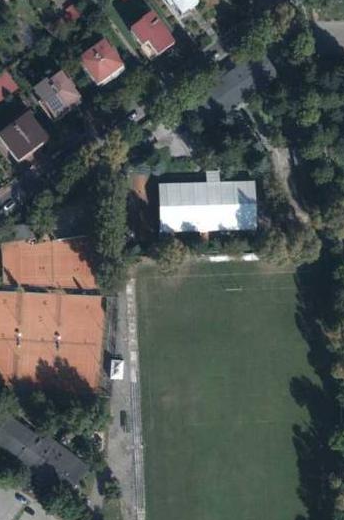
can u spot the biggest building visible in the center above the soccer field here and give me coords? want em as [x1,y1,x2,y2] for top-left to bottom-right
[158,180,258,234]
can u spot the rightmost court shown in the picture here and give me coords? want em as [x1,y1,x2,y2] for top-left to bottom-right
[59,292,105,388]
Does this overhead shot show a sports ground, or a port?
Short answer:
sports ground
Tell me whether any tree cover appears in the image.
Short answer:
Yes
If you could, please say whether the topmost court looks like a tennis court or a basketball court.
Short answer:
tennis court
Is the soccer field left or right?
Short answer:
right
